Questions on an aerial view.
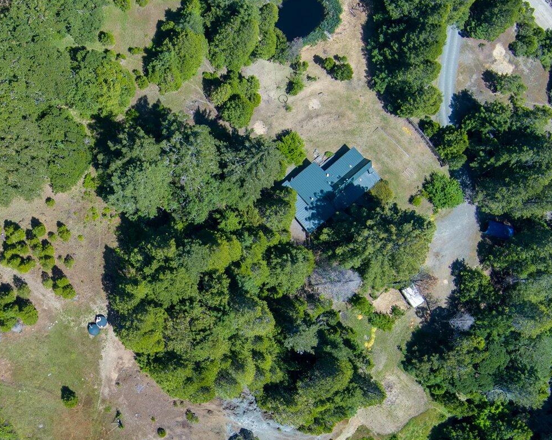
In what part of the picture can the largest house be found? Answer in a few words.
center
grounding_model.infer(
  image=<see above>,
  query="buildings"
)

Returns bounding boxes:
[397,284,424,307]
[286,146,381,234]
